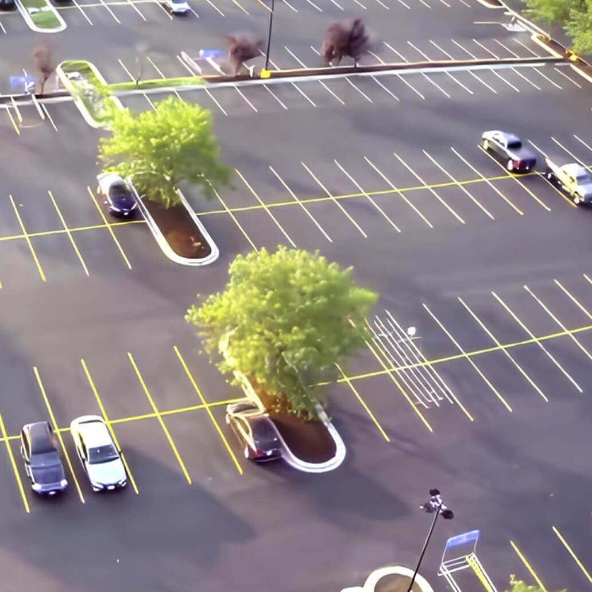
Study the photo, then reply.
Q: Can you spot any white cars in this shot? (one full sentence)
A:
Yes, there's a white car down there.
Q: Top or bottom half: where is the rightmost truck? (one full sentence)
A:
Seen from above, the rightmost truck lies in the top half of the view.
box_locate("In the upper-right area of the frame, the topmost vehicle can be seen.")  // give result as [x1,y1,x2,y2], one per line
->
[480,129,536,172]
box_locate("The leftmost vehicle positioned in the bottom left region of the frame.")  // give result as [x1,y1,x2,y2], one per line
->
[16,420,66,494]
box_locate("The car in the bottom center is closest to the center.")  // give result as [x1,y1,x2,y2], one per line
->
[226,401,280,461]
